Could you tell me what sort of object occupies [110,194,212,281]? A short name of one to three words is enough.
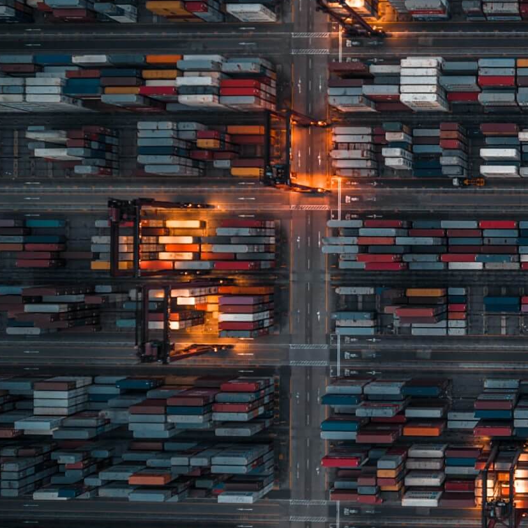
container crane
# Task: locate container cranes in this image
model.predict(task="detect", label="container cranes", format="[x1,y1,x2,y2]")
[110,194,212,281]
[261,102,336,192]
[317,0,384,32]
[481,439,528,528]
[140,277,233,365]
